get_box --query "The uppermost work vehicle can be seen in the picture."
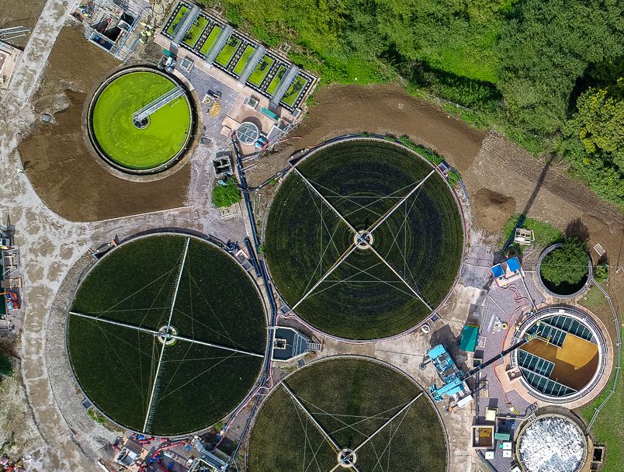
[0,222,18,250]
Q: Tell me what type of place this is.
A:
industrial area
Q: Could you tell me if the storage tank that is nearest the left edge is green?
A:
Yes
